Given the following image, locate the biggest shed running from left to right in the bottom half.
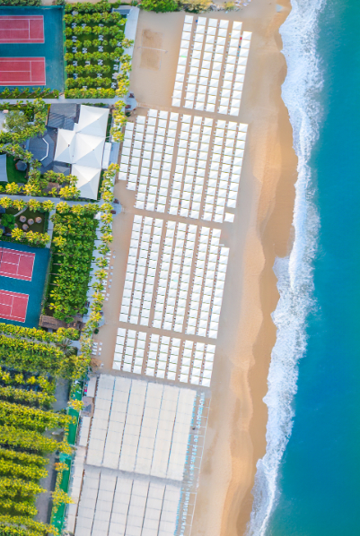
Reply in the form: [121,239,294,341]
[39,315,83,330]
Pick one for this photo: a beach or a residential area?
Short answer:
beach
